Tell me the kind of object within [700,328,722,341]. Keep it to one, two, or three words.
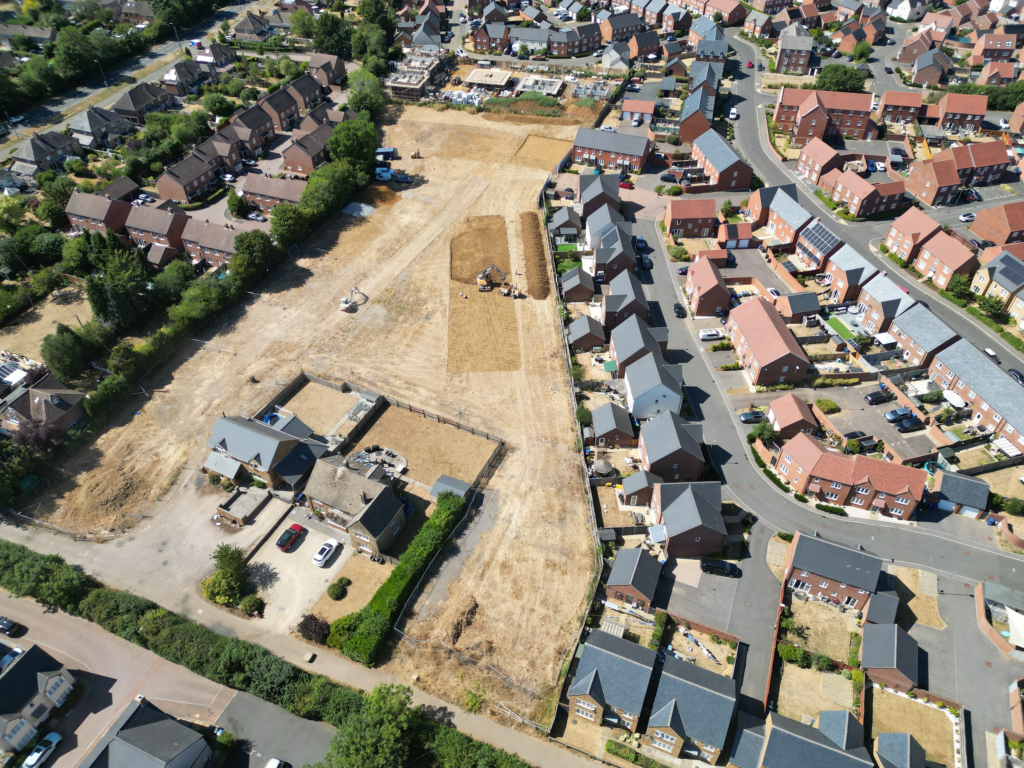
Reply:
vehicle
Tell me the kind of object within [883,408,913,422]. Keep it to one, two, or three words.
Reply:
car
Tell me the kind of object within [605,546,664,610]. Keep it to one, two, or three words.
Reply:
building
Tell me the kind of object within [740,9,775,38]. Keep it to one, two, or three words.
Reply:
house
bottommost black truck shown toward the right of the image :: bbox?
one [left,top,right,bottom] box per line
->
[702,553,738,577]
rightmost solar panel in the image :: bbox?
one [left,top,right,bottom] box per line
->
[993,254,1024,281]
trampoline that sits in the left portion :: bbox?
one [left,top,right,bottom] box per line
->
[397,492,416,513]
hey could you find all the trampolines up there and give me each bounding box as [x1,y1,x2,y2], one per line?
[924,454,952,473]
[397,492,416,513]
